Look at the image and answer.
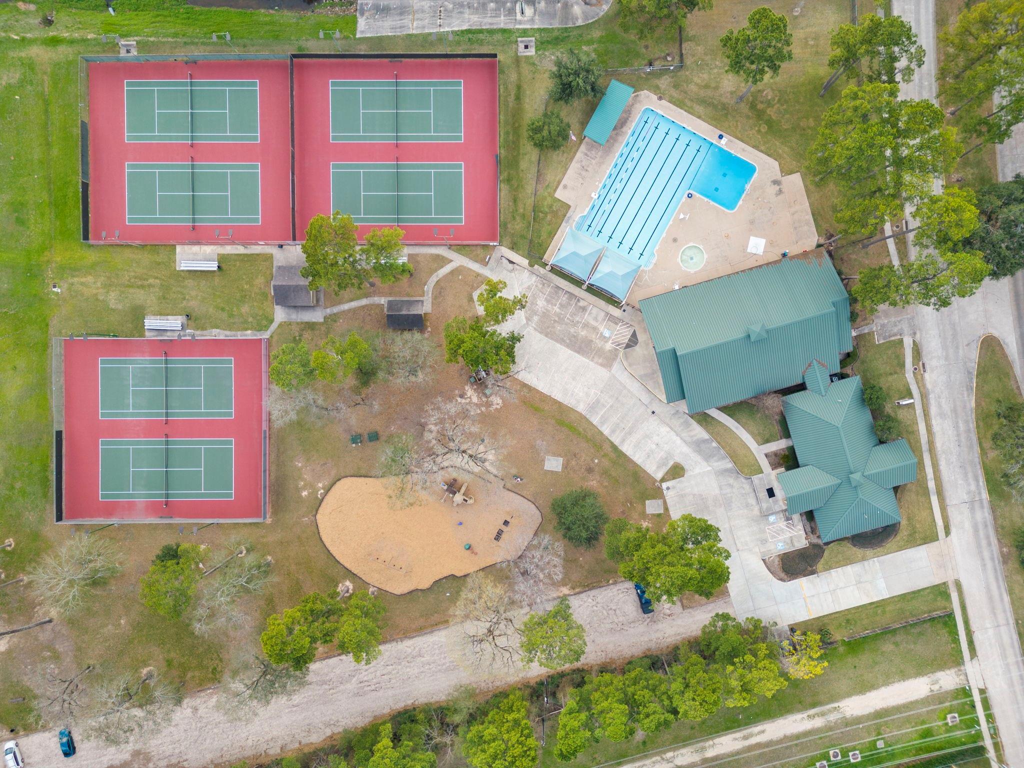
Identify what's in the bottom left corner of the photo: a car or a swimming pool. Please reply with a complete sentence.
You can see a car in the bottom left corner of the photo.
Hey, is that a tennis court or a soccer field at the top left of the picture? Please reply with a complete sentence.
There is a tennis court at the top left of the picture.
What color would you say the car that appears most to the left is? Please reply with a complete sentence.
The car that appears most to the left is white.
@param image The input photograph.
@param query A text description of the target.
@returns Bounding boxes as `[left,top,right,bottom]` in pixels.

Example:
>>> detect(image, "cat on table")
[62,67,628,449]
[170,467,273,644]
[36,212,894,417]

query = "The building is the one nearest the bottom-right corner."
[772,354,918,543]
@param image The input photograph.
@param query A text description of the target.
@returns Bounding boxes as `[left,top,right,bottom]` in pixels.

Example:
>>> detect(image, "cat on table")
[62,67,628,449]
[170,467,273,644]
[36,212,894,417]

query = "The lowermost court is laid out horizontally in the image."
[65,428,268,519]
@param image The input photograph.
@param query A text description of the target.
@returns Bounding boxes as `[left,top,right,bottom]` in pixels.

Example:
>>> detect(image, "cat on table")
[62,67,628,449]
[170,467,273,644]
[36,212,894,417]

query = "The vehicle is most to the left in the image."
[4,739,24,768]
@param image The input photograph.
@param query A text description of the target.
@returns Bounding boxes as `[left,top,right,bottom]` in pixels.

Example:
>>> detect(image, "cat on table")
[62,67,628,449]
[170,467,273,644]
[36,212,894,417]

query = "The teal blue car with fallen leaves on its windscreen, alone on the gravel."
[56,730,73,760]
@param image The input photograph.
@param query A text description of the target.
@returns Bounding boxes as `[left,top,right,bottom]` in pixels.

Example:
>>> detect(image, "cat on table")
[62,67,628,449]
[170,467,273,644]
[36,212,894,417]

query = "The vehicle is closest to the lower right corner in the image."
[636,582,655,616]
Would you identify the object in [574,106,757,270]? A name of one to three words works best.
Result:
swimming pool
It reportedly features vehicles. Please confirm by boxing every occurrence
[56,730,73,760]
[636,582,655,616]
[4,739,24,768]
